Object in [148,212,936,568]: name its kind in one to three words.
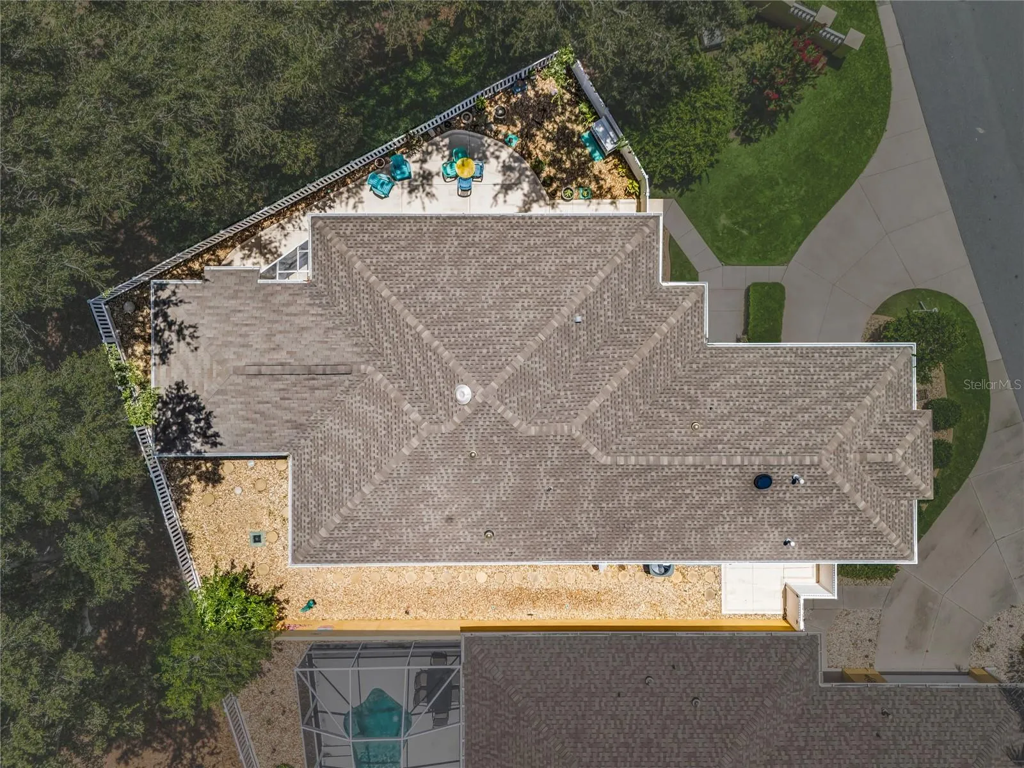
house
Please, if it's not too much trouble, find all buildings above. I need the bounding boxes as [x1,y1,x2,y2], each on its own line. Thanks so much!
[458,620,1024,768]
[148,212,936,568]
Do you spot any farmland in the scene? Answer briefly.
No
